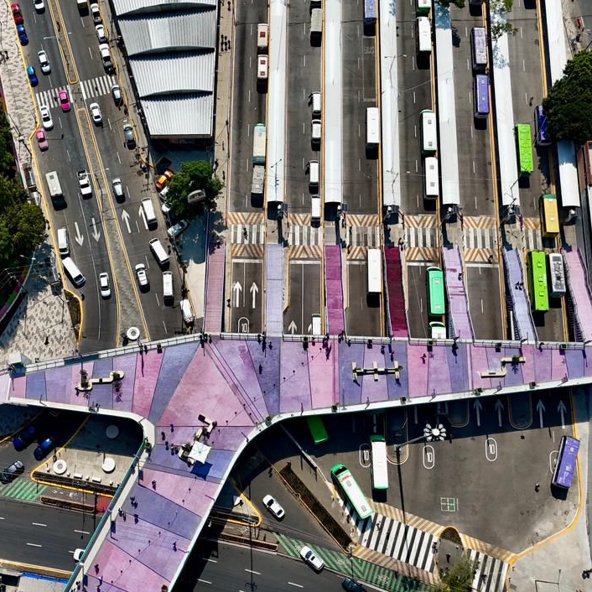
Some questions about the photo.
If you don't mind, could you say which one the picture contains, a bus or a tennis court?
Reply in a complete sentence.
It is a bus that can be seen here.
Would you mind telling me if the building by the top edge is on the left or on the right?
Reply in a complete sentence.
It is on the left.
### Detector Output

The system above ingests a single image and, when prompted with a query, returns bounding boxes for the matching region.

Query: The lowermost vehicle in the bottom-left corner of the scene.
[72,548,88,561]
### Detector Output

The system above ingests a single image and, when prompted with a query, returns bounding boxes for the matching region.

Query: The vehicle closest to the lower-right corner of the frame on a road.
[548,436,577,488]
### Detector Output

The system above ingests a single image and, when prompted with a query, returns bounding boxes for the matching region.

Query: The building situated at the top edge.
[114,0,217,151]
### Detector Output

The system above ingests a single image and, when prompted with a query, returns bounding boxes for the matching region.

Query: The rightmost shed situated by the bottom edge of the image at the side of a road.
[19,571,69,592]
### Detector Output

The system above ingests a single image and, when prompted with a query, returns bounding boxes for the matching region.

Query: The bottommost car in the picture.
[341,576,367,592]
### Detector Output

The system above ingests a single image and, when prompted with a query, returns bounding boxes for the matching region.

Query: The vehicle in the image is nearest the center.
[309,316,322,336]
